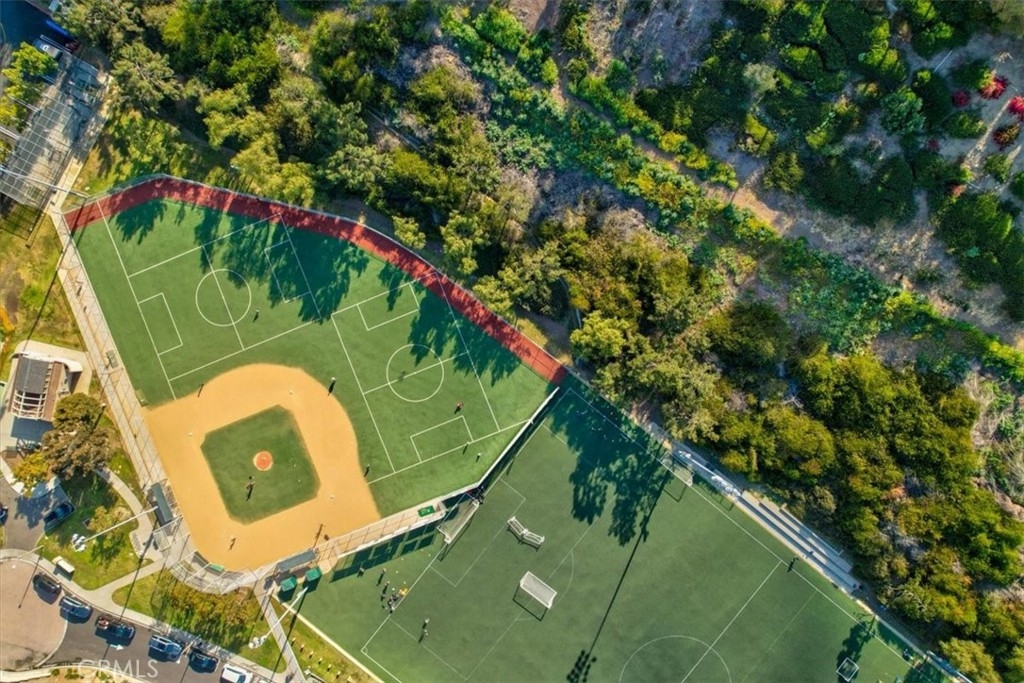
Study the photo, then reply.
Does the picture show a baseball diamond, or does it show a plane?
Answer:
baseball diamond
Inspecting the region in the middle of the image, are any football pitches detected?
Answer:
Yes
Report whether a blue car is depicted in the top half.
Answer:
Yes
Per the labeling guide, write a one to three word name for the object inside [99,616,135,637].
truck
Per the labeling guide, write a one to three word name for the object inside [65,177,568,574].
baseball field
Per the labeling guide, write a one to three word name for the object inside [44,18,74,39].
car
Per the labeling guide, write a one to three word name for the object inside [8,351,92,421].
building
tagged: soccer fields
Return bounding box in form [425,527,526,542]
[331,272,499,472]
[129,214,321,381]
[275,374,954,683]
